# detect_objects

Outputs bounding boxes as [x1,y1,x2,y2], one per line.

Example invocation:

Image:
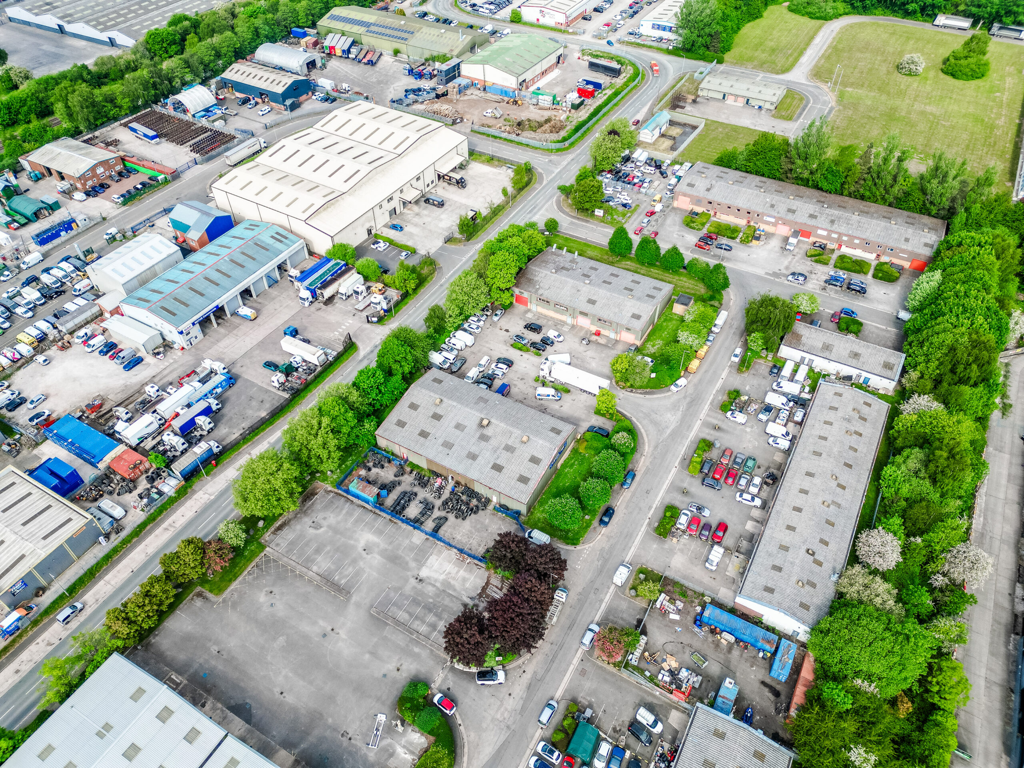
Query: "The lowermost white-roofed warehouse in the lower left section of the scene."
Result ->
[0,649,285,768]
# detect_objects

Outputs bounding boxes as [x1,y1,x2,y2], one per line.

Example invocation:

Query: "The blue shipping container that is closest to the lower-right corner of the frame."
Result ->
[765,636,794,689]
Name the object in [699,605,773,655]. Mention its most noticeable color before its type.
blue shipping container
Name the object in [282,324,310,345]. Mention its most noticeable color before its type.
blue vehicle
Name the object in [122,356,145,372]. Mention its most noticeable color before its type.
blue car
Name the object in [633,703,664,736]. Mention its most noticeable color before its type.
white van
